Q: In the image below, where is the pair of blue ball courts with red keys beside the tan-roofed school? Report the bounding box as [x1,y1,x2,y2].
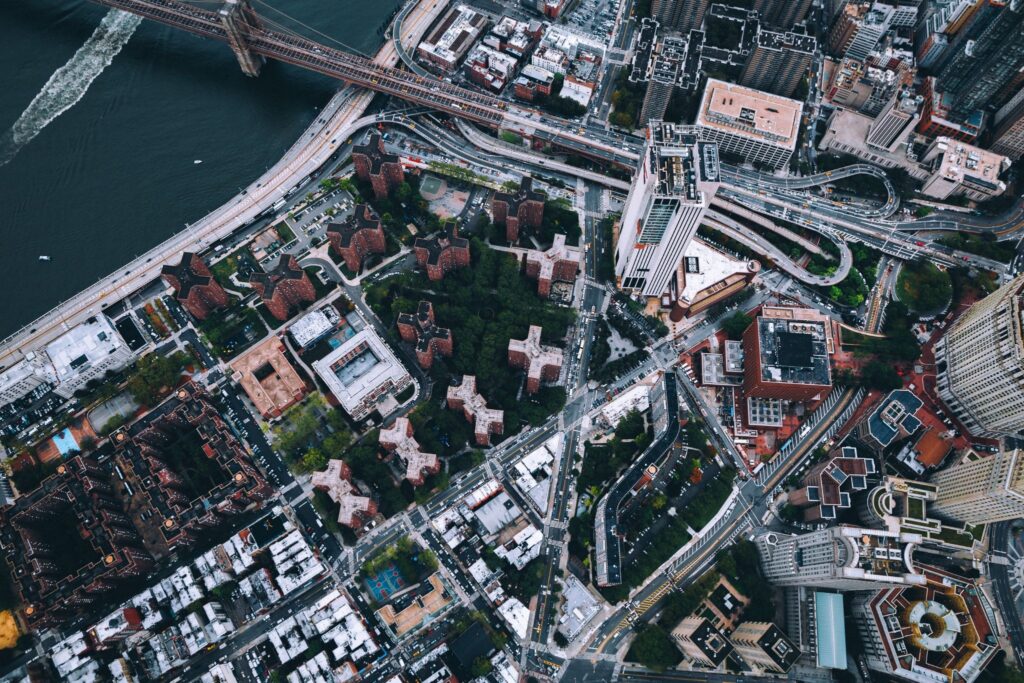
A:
[366,559,407,602]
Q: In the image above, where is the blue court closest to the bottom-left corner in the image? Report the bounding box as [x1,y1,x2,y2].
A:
[52,427,80,458]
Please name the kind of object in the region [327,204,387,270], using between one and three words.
building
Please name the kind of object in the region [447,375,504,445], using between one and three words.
building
